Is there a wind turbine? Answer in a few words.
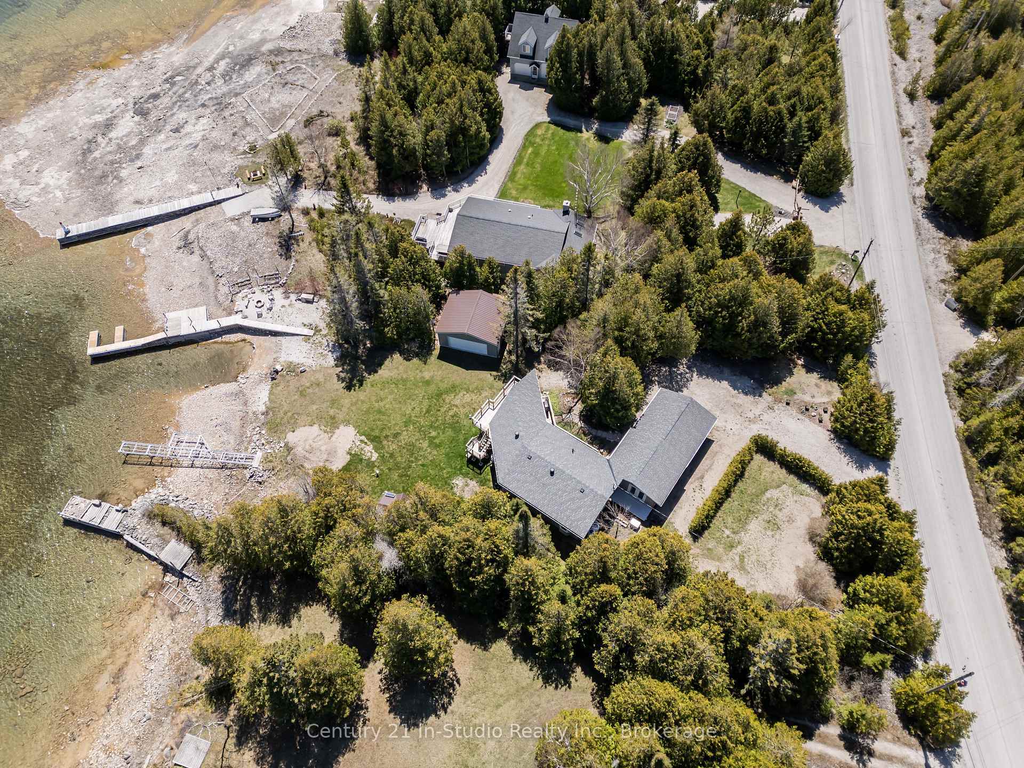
No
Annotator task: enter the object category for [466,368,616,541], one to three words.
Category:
house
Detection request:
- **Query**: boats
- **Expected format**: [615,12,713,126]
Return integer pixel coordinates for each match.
[246,206,281,218]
